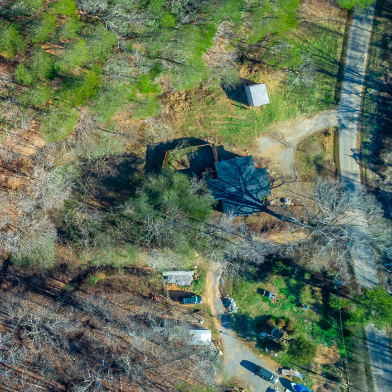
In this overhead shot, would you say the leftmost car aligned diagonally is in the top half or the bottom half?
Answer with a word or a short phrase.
bottom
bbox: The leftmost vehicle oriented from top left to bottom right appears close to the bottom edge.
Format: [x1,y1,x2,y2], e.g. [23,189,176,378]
[254,364,279,383]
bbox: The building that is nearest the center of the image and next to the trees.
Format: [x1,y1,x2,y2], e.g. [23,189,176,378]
[198,149,271,217]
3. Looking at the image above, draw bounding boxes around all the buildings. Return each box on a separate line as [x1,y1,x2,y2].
[159,269,194,285]
[168,326,211,343]
[244,84,269,107]
[198,149,271,217]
